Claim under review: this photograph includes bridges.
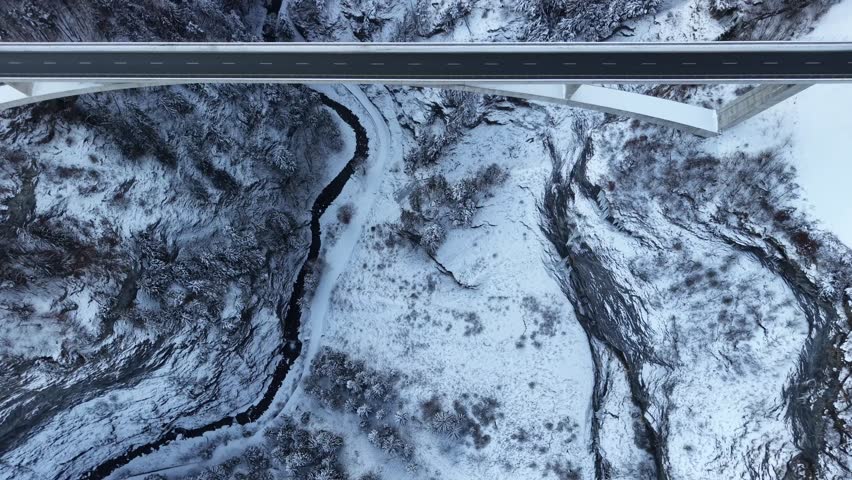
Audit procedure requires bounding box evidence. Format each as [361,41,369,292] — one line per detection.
[0,42,852,139]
